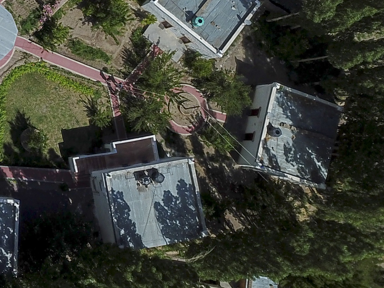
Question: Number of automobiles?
0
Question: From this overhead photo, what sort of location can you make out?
residential area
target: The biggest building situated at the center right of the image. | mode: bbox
[235,81,343,188]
